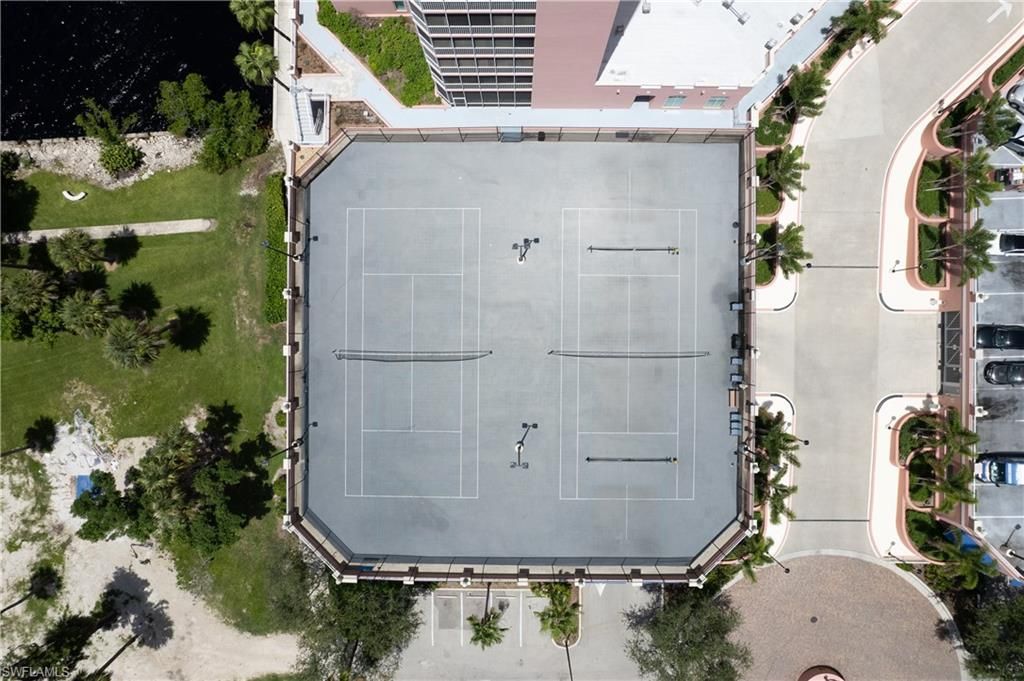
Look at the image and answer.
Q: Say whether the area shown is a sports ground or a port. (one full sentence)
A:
The area seen from above is a sports ground.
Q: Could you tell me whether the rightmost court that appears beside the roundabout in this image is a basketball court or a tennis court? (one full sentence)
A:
I'd identify the rightmost court that appears beside the roundabout as a tennis court.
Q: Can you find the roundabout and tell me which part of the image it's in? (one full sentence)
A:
You can find the roundabout in the bottom right area of the picture.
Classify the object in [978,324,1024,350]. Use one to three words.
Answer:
car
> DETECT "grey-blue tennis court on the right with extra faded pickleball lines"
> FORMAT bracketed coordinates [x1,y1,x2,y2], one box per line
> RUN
[520,141,739,564]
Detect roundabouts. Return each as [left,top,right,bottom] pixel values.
[695,548,974,681]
